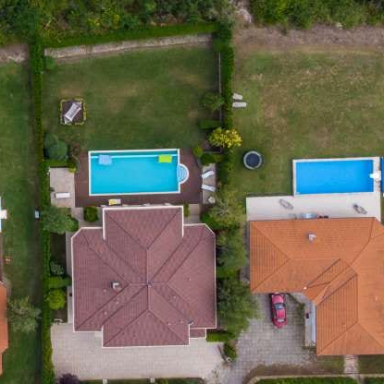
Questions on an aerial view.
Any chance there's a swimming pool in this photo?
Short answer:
Yes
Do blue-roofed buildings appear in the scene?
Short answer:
No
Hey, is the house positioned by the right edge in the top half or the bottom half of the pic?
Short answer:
bottom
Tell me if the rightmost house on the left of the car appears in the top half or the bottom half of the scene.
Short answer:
bottom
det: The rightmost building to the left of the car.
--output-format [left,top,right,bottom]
[71,205,217,348]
